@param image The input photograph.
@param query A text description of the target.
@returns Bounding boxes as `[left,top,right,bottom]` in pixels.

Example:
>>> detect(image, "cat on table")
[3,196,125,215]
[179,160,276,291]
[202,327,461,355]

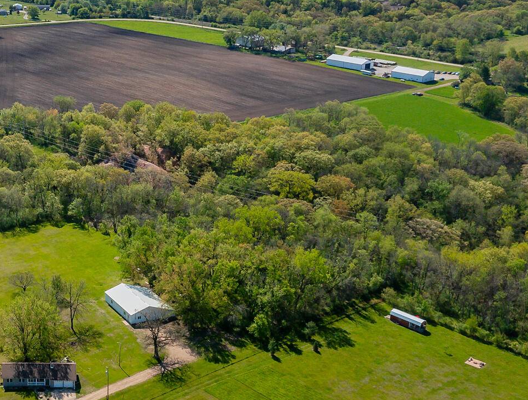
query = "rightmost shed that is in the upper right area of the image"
[392,66,431,82]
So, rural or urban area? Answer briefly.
rural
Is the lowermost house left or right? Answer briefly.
left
